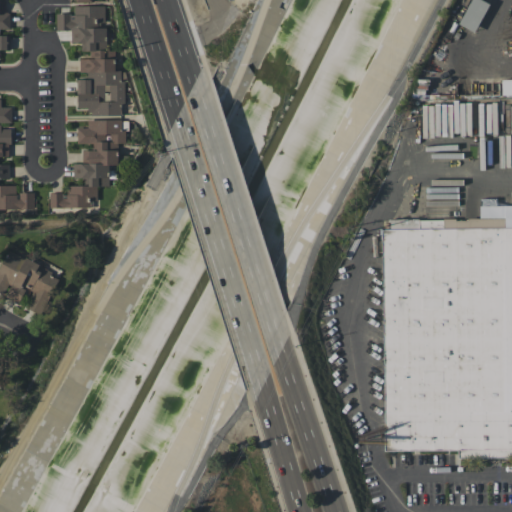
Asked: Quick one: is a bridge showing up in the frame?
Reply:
Yes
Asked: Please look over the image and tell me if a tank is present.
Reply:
No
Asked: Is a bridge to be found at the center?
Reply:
Yes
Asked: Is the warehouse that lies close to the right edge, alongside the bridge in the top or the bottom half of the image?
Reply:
bottom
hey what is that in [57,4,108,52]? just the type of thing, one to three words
house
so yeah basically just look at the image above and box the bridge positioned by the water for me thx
[164,58,300,420]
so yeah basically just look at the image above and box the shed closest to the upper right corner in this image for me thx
[458,0,490,35]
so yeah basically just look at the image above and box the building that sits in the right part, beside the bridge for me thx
[384,228,512,459]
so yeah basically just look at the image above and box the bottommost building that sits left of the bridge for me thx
[0,255,62,309]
